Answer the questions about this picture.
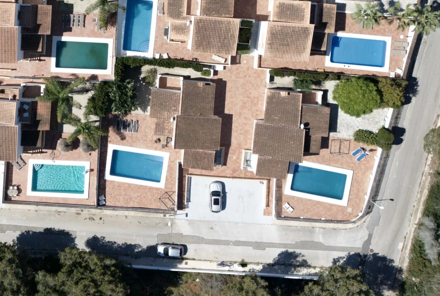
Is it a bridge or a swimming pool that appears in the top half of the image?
swimming pool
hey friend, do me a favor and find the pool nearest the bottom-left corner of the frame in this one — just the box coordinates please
[27,159,89,199]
